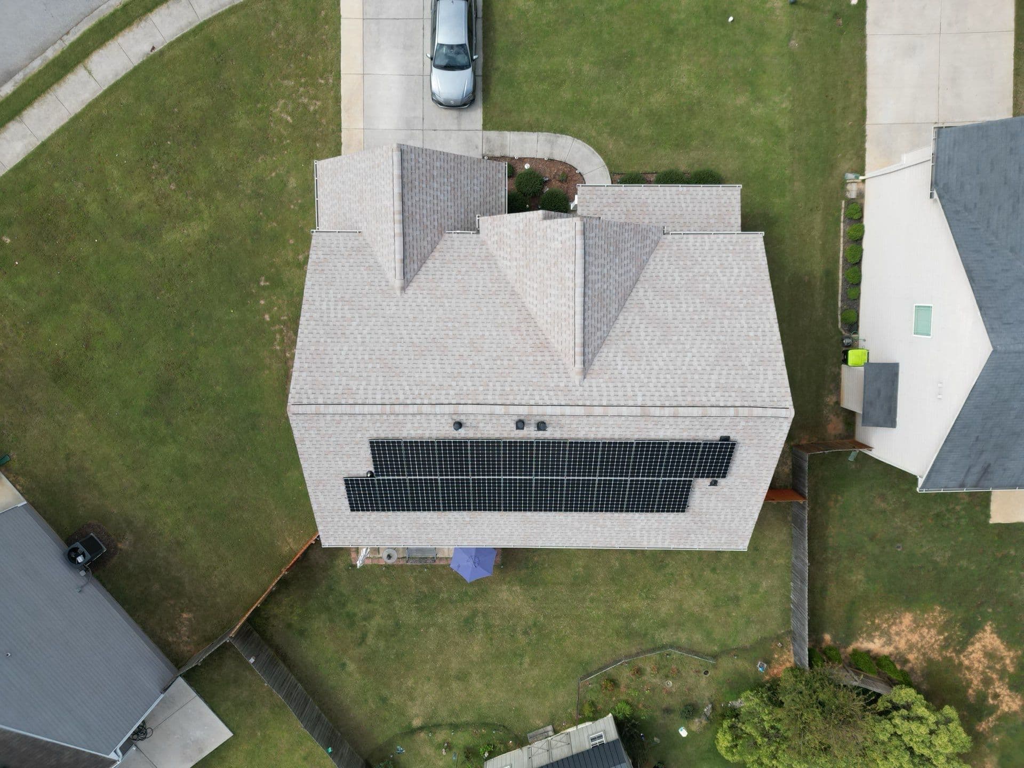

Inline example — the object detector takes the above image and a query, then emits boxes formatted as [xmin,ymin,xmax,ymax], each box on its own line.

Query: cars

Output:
[424,0,481,112]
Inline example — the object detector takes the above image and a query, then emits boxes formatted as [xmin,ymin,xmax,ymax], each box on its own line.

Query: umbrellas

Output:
[354,551,374,568]
[451,552,497,582]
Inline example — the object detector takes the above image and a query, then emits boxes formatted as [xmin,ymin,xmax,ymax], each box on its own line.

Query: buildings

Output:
[0,502,182,768]
[287,145,794,554]
[476,714,631,768]
[840,116,1024,494]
